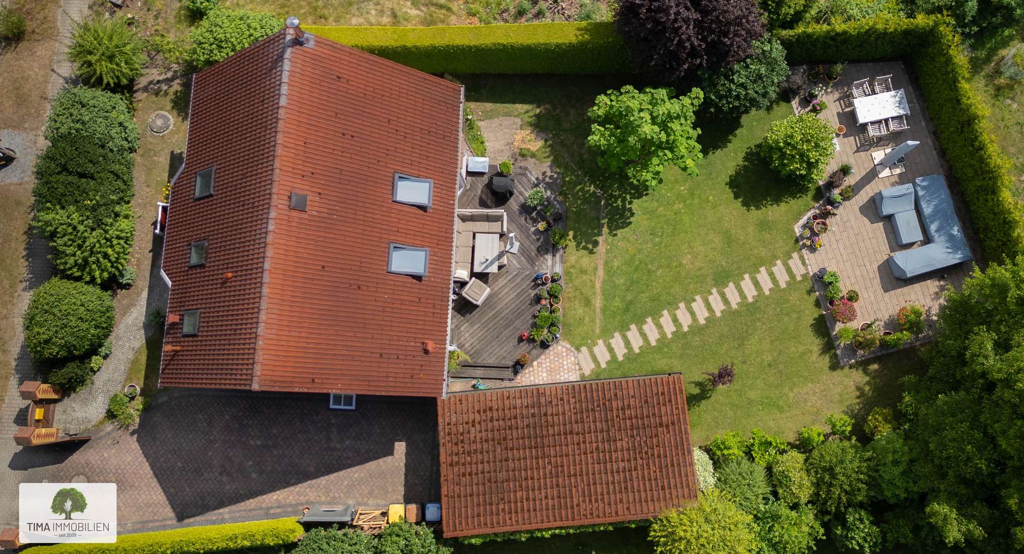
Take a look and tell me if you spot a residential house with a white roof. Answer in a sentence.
No, the frame has no residential house with a white roof in it.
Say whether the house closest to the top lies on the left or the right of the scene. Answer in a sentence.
The house closest to the top is on the left side of the image.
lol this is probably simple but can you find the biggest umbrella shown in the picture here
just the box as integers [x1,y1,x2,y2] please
[872,144,919,176]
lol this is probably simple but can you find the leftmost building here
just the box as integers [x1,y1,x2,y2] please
[153,16,472,411]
